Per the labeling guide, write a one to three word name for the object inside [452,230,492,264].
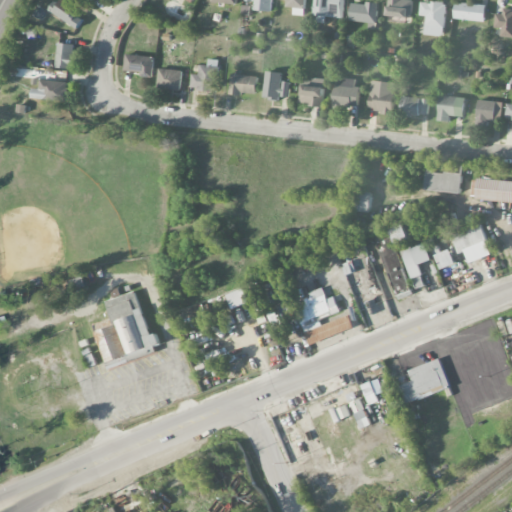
building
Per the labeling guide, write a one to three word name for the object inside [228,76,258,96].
house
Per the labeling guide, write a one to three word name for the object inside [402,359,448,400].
building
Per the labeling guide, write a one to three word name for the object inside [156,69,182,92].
house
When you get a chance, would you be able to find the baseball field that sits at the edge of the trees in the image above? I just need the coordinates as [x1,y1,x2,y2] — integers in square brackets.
[0,146,130,286]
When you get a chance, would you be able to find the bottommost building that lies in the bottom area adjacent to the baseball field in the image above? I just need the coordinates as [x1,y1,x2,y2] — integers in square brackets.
[93,292,160,368]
